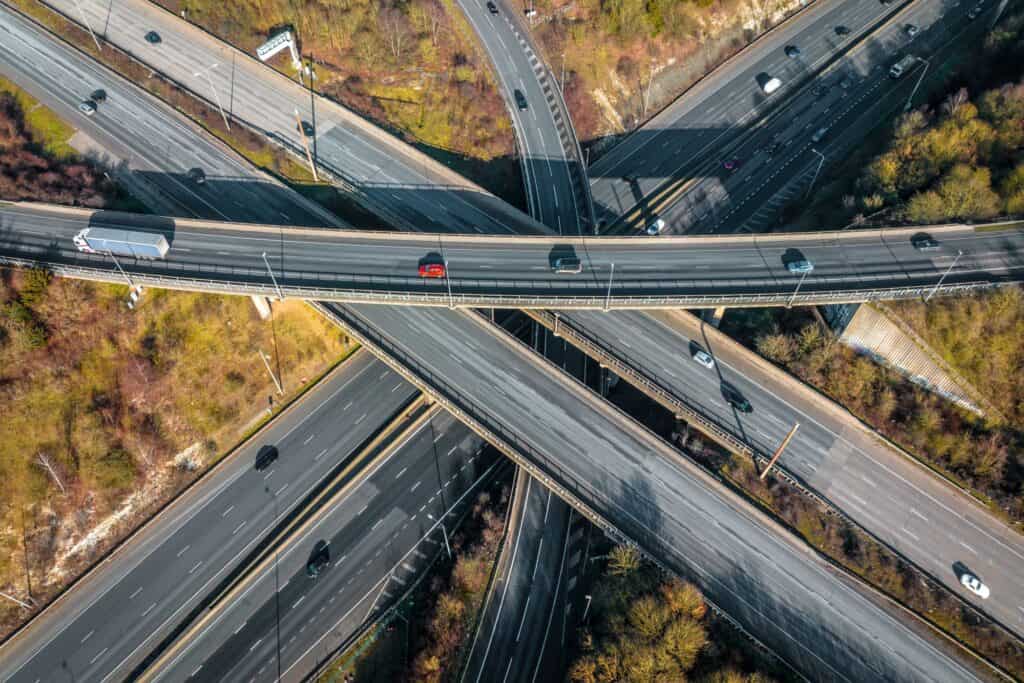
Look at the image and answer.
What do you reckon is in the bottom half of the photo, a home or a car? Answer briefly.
car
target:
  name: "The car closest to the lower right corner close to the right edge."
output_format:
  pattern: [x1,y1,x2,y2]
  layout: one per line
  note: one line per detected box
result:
[957,571,992,601]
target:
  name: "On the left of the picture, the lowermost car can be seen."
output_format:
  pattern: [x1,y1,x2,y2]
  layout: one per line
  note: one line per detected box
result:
[304,548,331,576]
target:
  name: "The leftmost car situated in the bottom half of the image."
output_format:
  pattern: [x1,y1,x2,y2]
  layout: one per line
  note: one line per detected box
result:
[252,447,279,472]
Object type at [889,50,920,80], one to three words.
truck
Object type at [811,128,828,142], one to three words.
car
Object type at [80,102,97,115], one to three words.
vehicle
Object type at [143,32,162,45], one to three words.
vehicle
